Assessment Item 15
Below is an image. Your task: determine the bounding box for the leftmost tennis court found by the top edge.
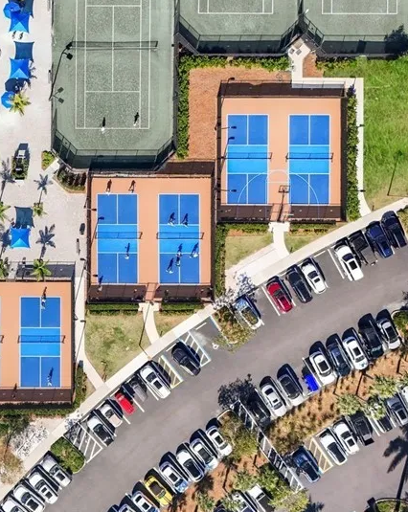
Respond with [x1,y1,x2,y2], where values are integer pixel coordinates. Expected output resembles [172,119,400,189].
[53,0,176,169]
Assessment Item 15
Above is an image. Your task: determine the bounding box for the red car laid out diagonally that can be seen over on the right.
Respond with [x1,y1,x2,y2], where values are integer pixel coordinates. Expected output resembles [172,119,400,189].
[268,281,295,314]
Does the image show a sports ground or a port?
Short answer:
sports ground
